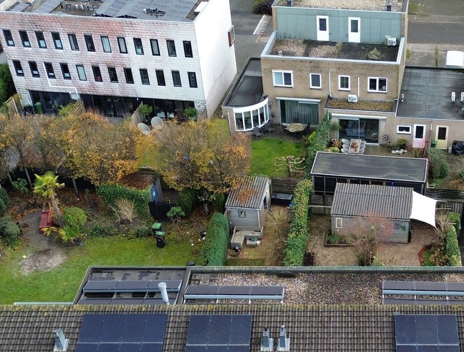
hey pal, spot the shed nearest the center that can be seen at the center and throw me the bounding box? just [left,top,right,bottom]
[222,175,269,232]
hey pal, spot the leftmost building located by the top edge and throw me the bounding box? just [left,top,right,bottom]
[0,0,236,120]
